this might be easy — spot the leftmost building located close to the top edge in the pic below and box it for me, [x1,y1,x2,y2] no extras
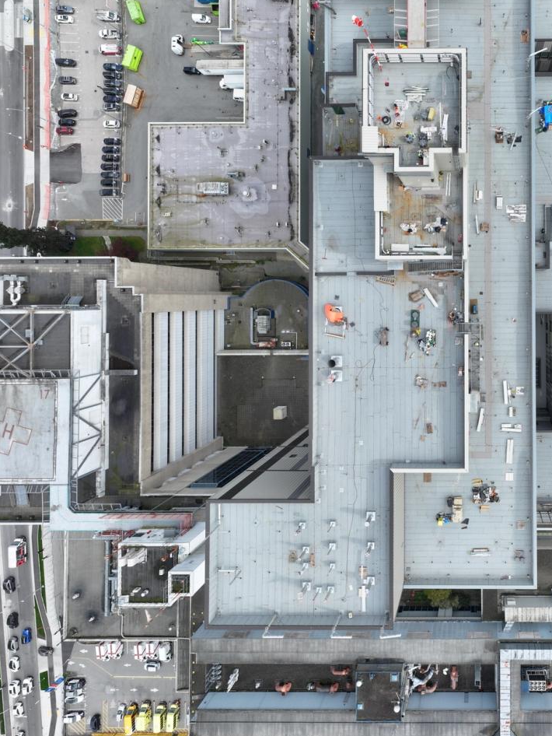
[148,0,312,268]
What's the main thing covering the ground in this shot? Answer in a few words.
buildings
